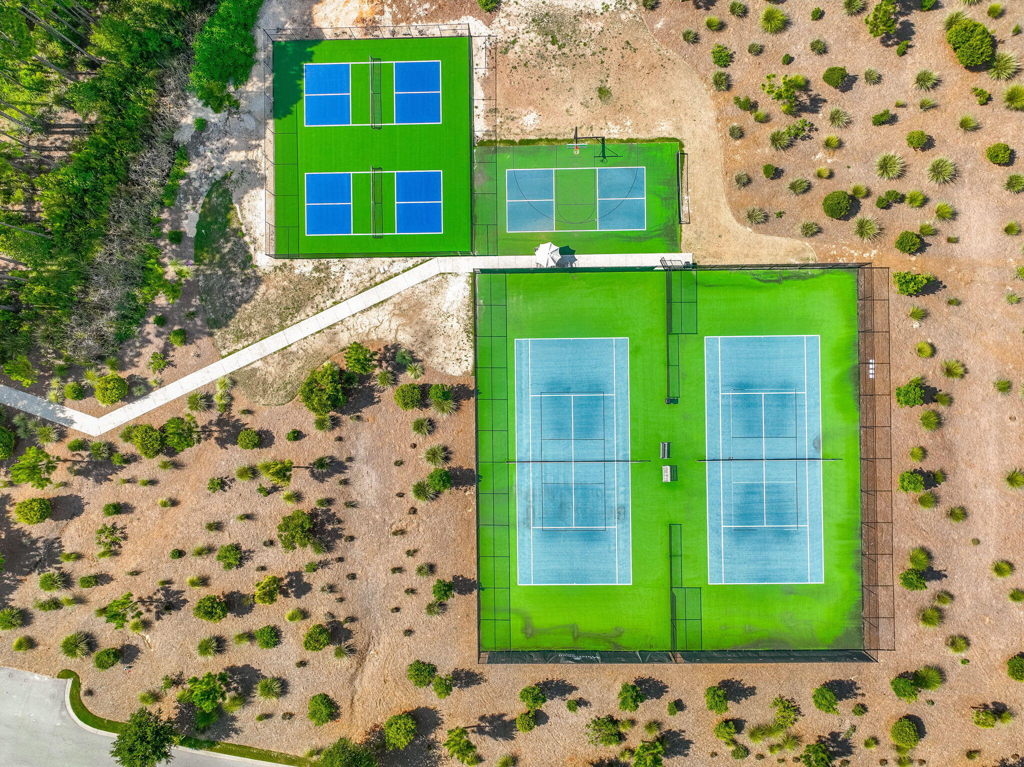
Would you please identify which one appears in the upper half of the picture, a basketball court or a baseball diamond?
basketball court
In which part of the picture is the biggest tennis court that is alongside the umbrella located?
center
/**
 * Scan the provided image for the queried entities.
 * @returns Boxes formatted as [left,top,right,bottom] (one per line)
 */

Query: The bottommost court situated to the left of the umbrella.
[274,146,473,258]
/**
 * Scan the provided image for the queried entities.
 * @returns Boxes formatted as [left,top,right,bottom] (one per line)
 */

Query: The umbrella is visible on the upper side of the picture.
[534,240,562,269]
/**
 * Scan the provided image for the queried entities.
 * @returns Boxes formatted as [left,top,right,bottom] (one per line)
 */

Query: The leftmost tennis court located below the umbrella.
[477,271,672,652]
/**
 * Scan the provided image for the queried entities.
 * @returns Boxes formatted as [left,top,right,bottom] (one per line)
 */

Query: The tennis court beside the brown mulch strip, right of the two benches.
[668,268,863,651]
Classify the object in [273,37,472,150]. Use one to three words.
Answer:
sports court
